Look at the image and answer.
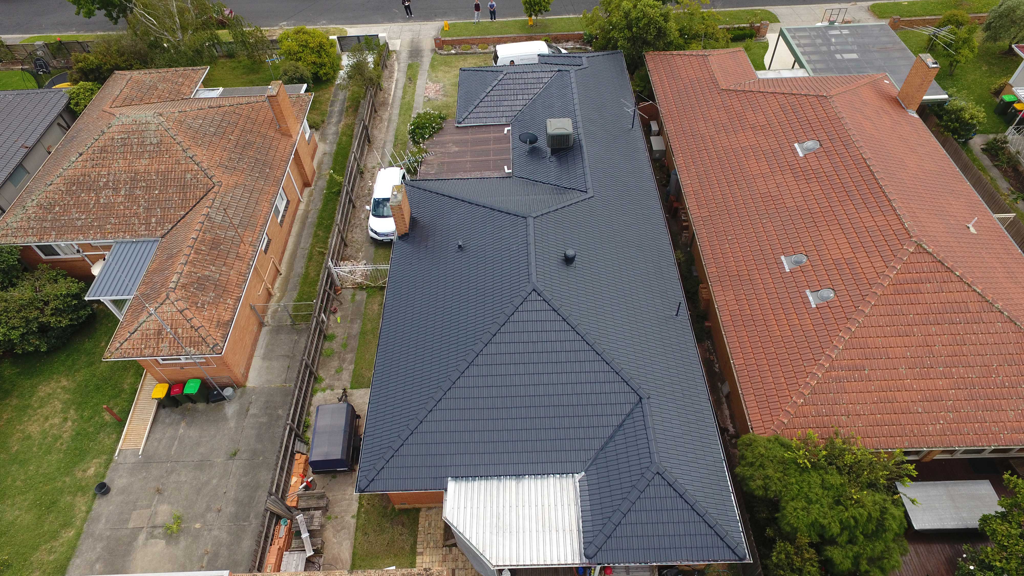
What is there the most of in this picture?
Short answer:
buildings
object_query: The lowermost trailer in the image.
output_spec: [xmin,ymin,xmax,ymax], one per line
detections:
[305,381,363,475]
